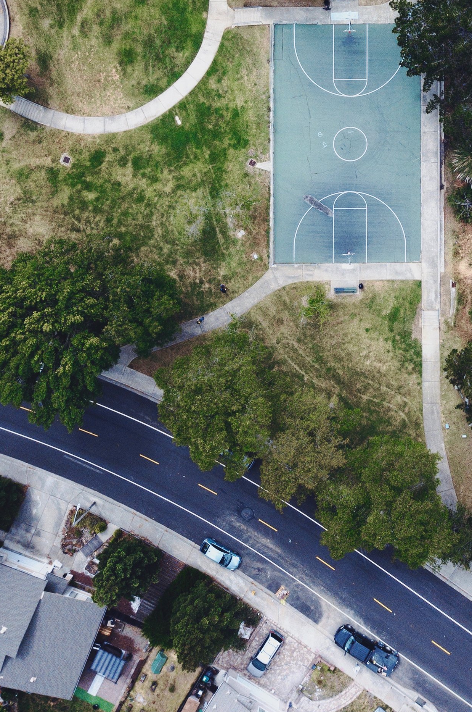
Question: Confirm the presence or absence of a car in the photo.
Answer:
Yes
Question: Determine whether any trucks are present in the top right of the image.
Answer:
No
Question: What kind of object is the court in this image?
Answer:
basketball court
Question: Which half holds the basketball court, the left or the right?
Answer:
right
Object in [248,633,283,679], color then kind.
white car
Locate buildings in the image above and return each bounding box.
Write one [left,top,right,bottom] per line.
[197,662,295,712]
[0,541,110,702]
